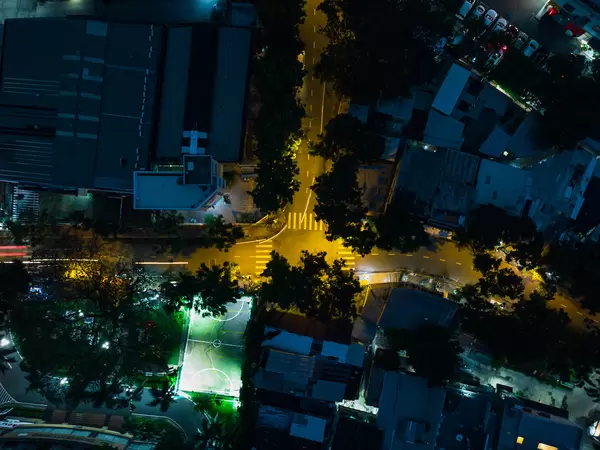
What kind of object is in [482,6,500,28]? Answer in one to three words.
car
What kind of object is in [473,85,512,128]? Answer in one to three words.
house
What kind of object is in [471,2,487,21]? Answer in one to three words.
car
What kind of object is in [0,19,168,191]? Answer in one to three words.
building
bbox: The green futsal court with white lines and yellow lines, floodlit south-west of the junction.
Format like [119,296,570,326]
[173,294,256,401]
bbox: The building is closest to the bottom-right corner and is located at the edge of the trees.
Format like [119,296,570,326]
[502,394,583,450]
